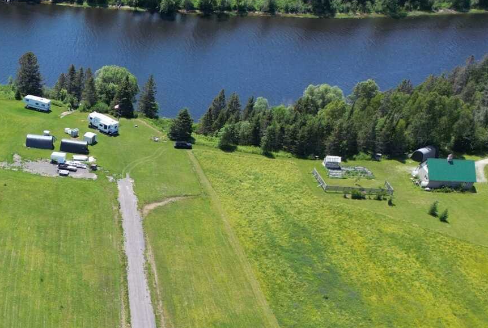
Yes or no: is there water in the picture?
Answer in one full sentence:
Yes, the picture does contain water.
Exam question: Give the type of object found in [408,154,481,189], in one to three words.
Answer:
building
